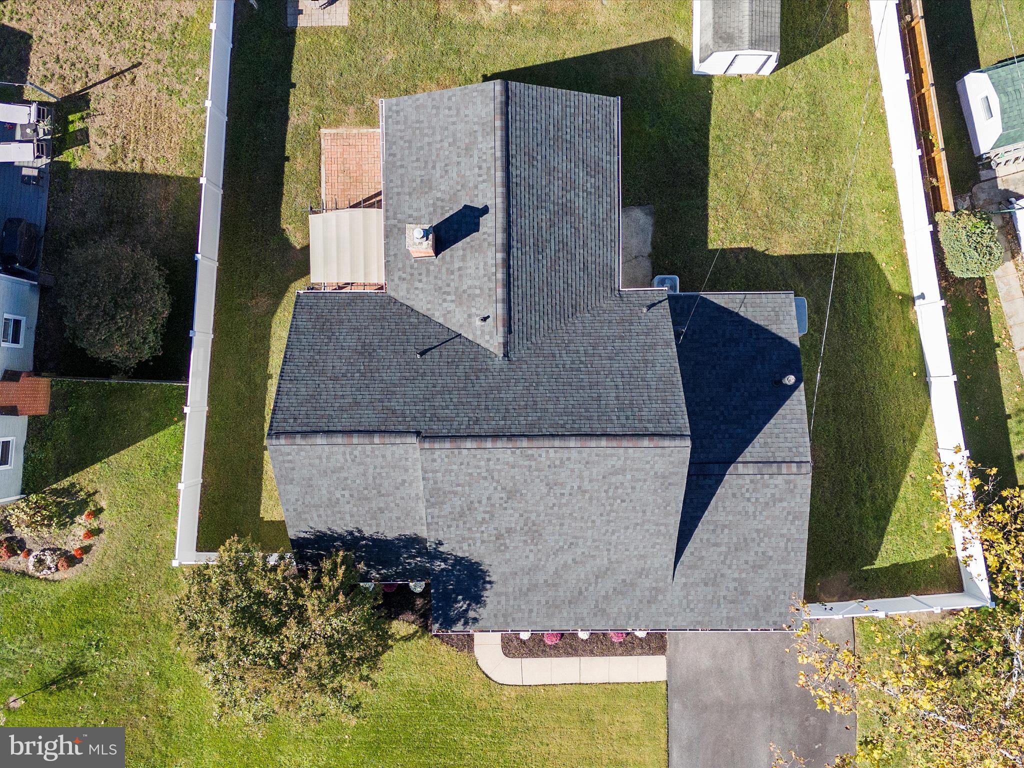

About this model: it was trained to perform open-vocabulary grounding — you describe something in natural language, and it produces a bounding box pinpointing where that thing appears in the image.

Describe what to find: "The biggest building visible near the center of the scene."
[268,80,811,636]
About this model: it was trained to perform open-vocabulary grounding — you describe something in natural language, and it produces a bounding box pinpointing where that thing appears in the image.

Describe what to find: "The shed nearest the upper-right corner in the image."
[955,57,1024,157]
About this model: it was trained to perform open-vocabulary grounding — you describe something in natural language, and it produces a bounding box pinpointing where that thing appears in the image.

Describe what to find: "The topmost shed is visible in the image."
[693,0,782,75]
